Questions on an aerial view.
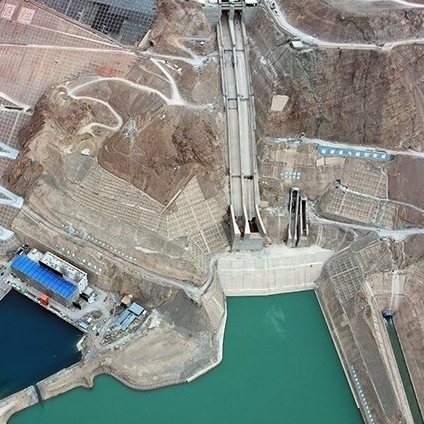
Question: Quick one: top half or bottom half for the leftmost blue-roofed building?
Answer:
bottom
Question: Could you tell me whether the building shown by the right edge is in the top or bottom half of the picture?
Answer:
bottom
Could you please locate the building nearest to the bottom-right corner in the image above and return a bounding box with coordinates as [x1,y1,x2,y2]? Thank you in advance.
[347,303,404,424]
